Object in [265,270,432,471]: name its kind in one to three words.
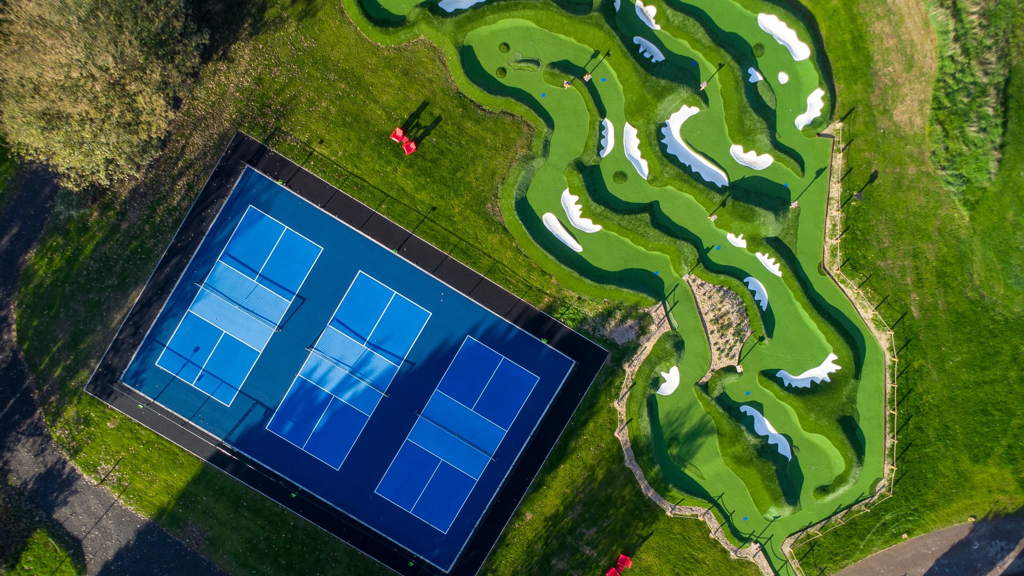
sports court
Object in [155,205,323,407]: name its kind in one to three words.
sports court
